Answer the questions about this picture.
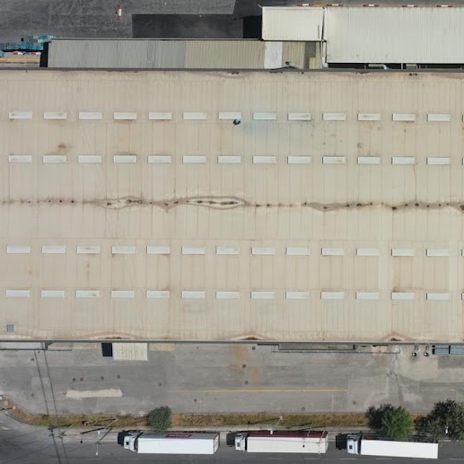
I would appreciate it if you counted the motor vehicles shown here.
3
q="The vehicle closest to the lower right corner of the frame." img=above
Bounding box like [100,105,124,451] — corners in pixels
[342,431,439,458]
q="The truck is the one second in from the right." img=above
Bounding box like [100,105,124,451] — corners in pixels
[230,429,328,452]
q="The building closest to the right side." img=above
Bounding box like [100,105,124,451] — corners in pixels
[323,6,464,65]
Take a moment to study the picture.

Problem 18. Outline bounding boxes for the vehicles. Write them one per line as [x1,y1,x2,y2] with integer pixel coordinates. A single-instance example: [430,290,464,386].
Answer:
[230,429,328,452]
[124,431,219,455]
[342,431,439,458]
